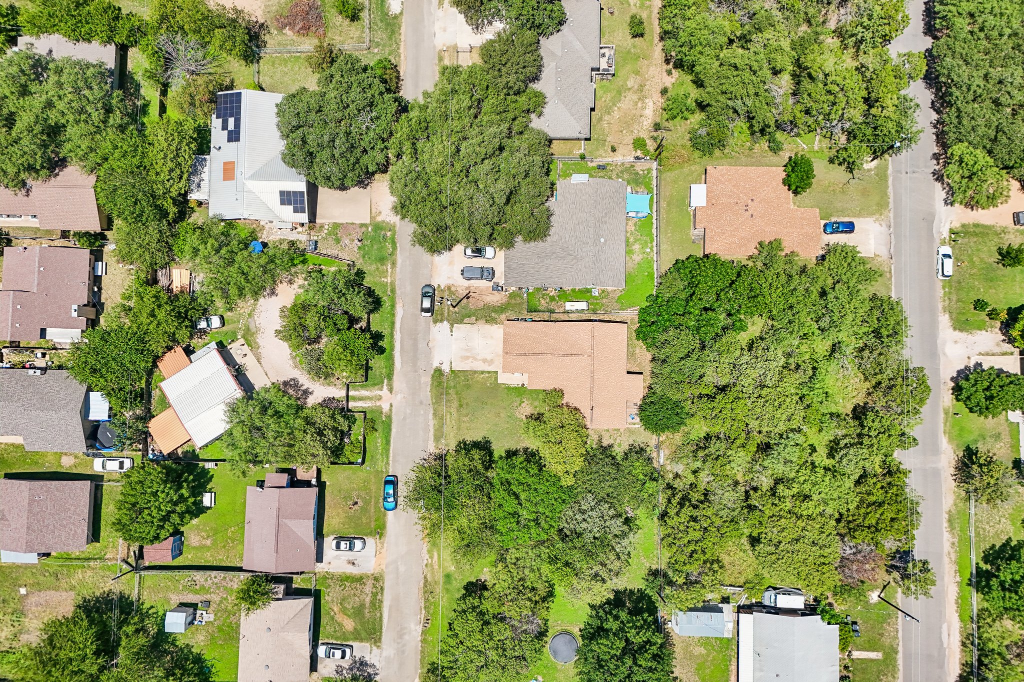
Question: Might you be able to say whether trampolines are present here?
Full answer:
Yes, the frame does contain a trampoline.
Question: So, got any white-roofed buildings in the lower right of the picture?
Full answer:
Yes, the scene does show a white-roofed building in the lower right of the picture.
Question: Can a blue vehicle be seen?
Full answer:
Yes, there's a blue vehicle down there.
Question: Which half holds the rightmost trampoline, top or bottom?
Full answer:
The bottom half of the photo is where the rightmost trampoline is.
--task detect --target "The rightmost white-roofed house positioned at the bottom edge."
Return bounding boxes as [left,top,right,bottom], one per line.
[733,608,840,682]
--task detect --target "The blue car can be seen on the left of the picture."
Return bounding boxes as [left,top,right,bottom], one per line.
[382,474,399,511]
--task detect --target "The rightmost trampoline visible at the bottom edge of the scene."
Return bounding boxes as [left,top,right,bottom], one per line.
[548,629,580,663]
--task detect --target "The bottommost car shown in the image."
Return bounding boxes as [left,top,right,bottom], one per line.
[318,641,354,660]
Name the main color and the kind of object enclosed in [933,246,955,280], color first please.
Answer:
white car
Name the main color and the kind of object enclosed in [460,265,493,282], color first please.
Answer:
gray vehicle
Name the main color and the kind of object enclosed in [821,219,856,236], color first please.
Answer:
blue car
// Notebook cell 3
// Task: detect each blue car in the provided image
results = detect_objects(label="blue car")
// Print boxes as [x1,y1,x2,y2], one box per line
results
[382,474,399,511]
[821,219,856,236]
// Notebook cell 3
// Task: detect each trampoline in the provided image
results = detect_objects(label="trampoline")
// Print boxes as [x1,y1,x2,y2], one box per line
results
[89,421,122,450]
[548,629,580,663]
